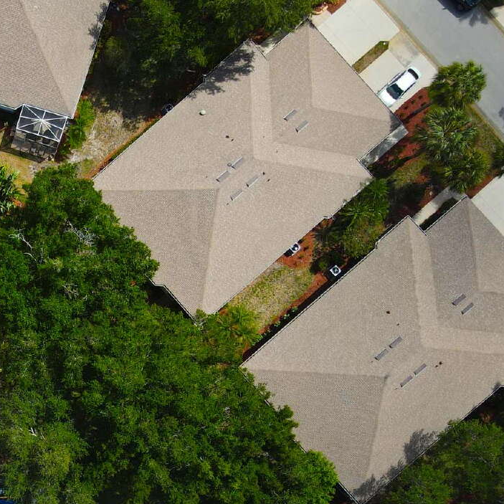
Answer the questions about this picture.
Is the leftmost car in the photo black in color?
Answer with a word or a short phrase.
No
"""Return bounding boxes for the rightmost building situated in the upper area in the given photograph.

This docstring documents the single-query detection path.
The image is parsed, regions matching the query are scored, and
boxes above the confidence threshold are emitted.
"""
[74,22,401,328]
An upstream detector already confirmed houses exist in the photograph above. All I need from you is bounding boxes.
[236,195,504,504]
[74,22,401,328]
[0,0,110,120]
